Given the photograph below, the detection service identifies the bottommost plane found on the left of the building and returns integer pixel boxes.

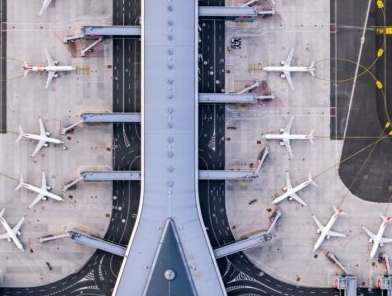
[0,212,25,250]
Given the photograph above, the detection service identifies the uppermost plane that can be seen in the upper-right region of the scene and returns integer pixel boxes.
[263,46,317,90]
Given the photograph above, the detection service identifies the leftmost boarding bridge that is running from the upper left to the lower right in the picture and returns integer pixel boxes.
[325,251,349,275]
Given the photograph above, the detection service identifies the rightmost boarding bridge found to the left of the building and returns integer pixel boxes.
[78,36,104,56]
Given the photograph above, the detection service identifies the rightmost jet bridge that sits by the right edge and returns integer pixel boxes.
[379,251,391,275]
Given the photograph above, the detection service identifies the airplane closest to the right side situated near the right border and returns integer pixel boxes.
[363,215,392,259]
